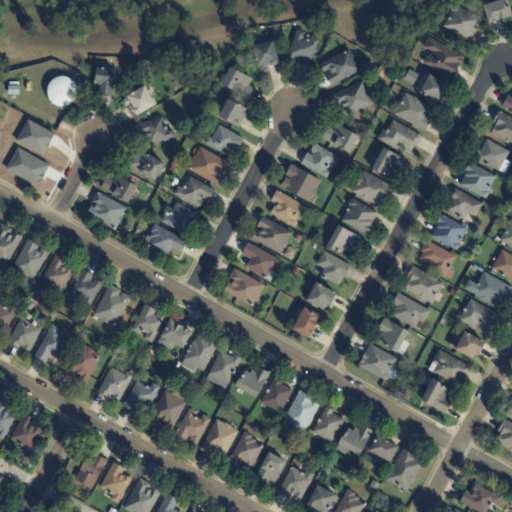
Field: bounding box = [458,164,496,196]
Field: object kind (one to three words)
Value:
house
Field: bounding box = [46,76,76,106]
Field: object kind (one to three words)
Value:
water tank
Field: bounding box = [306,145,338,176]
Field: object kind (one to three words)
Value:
house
